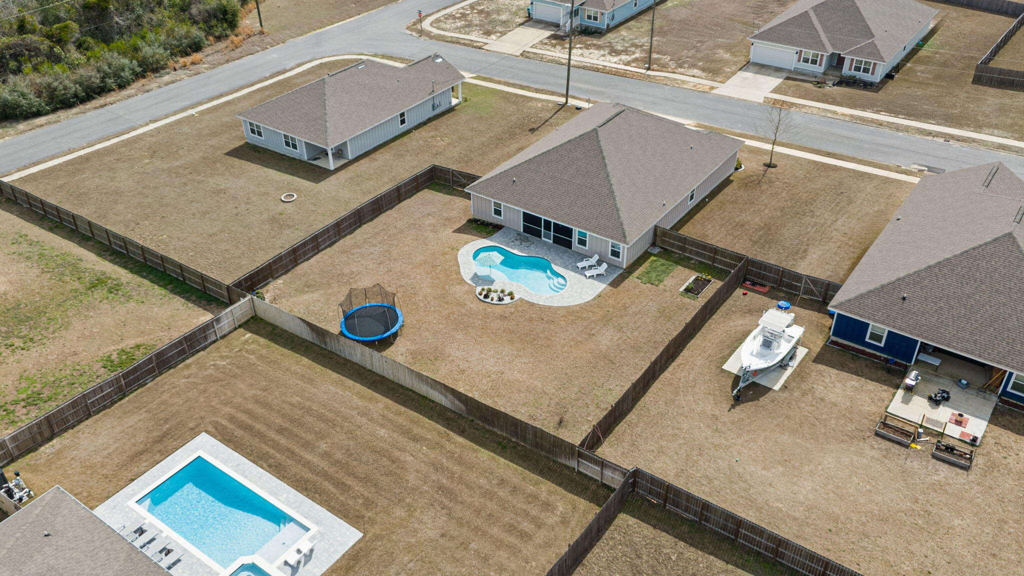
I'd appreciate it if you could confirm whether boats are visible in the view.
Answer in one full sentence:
Yes, a boat is visible in the scene.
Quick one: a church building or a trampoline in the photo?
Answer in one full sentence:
There is a trampoline in the scene.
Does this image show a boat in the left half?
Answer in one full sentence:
No, I can find no boat in the left half.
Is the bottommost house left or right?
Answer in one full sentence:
You can find the bottommost house on the left side of the picture.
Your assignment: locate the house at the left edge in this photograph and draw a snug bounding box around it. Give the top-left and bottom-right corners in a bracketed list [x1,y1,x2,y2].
[0,484,174,576]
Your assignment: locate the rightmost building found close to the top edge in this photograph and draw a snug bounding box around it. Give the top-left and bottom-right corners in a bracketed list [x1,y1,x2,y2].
[747,0,938,82]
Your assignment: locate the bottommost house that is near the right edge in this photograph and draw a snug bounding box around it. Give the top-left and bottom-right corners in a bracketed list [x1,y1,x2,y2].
[827,159,1024,407]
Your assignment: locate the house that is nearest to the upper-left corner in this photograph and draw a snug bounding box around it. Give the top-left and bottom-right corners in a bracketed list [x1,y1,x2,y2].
[236,51,465,170]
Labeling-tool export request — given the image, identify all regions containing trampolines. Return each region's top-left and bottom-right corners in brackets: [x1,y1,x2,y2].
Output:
[337,284,403,349]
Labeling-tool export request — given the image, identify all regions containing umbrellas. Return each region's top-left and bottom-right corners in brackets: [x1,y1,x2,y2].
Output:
[477,245,508,277]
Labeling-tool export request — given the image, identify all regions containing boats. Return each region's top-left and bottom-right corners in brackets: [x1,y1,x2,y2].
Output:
[739,305,800,372]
